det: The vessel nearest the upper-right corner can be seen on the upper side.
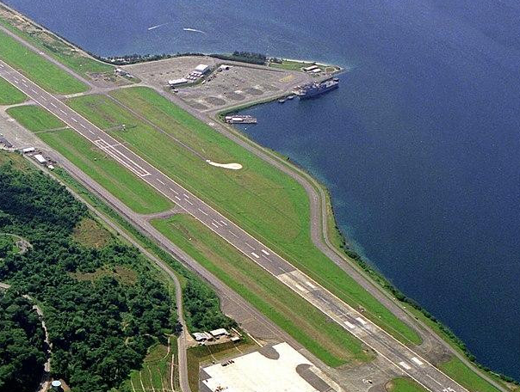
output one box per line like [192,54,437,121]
[294,74,340,95]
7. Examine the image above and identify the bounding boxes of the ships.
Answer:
[220,114,259,124]
[294,74,340,95]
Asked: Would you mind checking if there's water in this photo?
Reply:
Yes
